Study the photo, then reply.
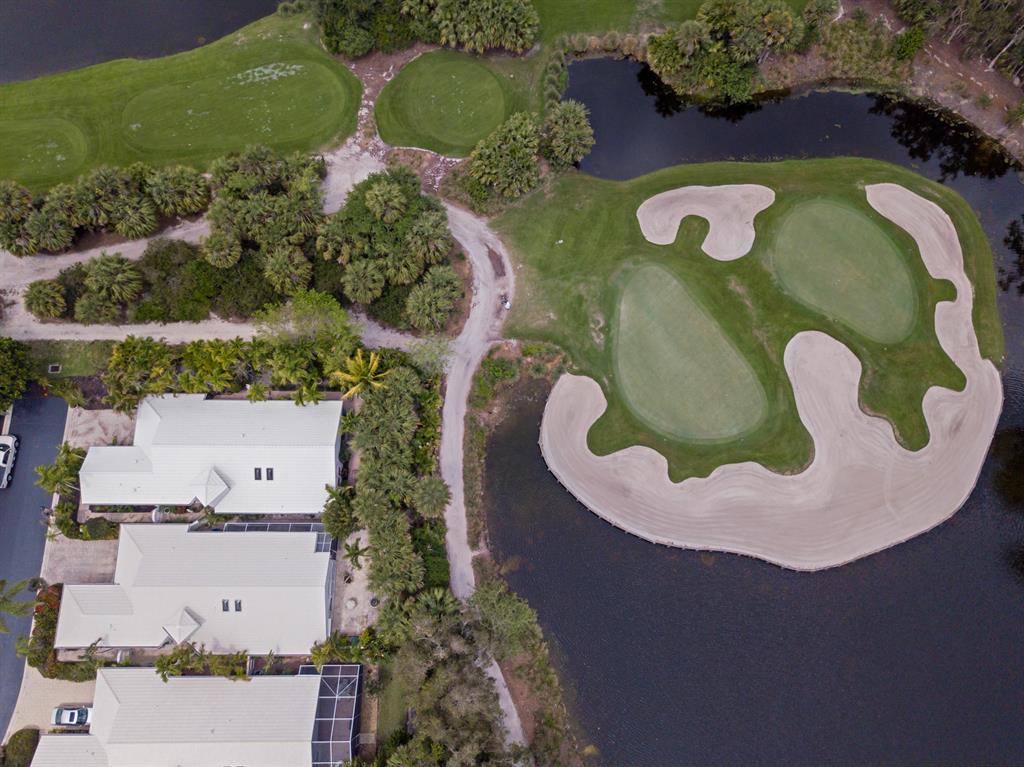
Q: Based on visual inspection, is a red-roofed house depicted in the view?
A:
No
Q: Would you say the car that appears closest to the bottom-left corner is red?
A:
No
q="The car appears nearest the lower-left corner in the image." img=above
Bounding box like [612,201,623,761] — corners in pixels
[49,708,93,730]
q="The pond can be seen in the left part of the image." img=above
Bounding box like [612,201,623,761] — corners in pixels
[0,0,291,86]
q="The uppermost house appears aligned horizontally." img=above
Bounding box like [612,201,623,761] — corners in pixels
[80,396,346,515]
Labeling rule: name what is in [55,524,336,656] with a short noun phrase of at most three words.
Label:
house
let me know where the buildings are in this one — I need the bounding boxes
[80,396,346,515]
[55,524,336,656]
[28,667,322,767]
